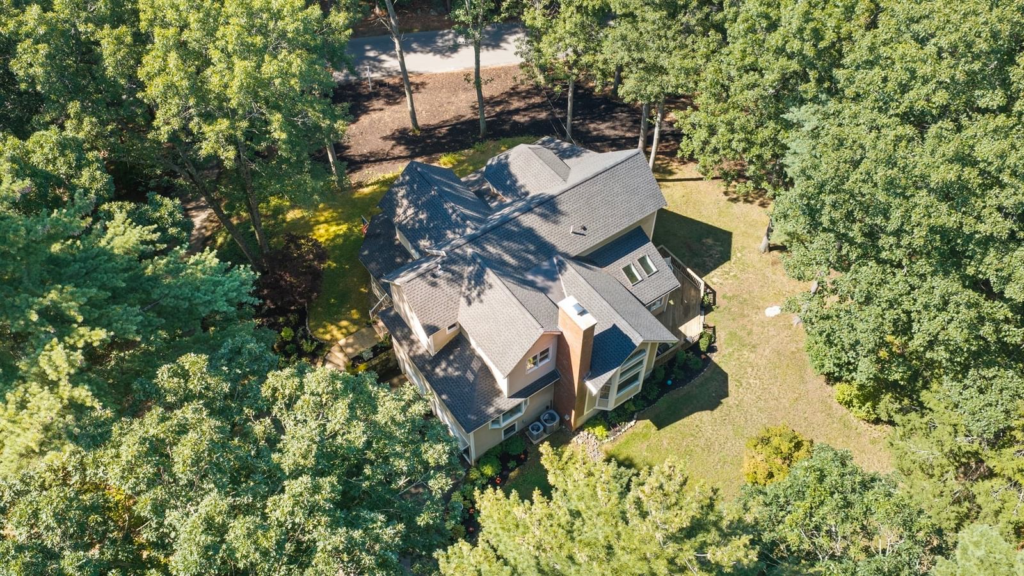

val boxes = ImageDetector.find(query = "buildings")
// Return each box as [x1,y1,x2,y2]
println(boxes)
[359,136,681,463]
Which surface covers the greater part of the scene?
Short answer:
trees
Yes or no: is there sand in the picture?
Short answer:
No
